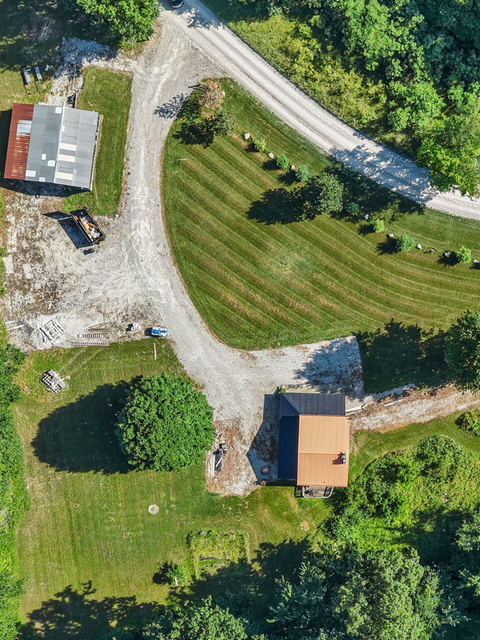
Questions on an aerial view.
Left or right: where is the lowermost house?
right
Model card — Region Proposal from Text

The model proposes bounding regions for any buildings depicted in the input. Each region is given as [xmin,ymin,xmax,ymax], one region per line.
[5,103,102,190]
[277,392,349,487]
